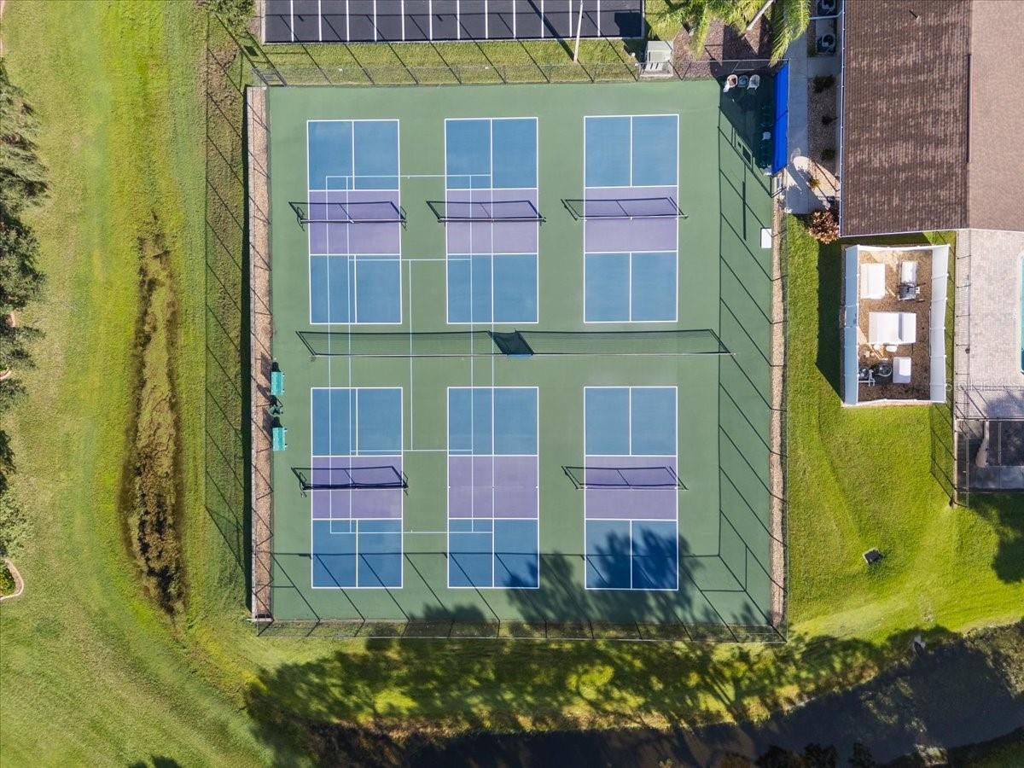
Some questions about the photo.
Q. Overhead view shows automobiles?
No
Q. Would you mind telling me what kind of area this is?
sports ground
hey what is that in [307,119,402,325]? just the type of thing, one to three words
sports court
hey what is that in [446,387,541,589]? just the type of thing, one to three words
sports court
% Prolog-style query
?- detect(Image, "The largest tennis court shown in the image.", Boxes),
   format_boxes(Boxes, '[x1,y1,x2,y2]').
[269,79,774,624]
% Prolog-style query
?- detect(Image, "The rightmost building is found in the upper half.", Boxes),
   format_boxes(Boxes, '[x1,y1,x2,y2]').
[834,0,1024,236]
